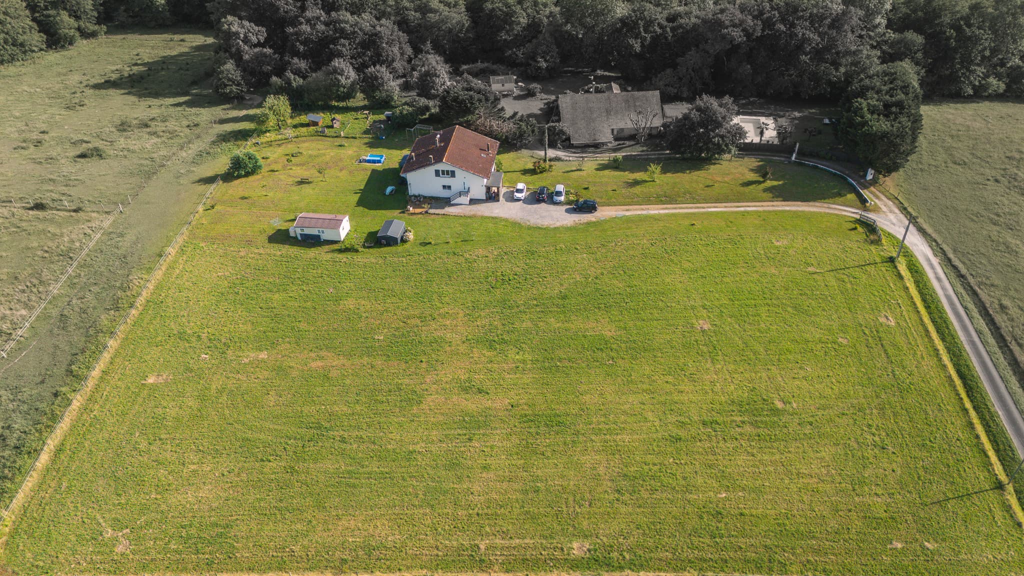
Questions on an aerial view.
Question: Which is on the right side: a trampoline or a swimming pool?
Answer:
swimming pool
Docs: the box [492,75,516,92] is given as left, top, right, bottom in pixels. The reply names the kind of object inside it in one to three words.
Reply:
shed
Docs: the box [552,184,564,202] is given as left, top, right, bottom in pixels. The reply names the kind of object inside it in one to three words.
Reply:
vehicle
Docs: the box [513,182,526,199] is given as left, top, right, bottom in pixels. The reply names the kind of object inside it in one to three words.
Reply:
vehicle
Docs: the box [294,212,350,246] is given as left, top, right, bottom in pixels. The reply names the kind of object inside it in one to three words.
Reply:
building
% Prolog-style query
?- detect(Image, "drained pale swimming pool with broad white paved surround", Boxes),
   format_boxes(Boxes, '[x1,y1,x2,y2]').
[733,115,780,144]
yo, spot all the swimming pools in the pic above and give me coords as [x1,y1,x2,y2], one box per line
[733,115,780,144]
[366,154,384,163]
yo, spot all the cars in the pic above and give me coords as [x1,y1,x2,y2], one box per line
[571,197,599,212]
[552,184,564,202]
[536,186,548,200]
[513,182,526,199]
